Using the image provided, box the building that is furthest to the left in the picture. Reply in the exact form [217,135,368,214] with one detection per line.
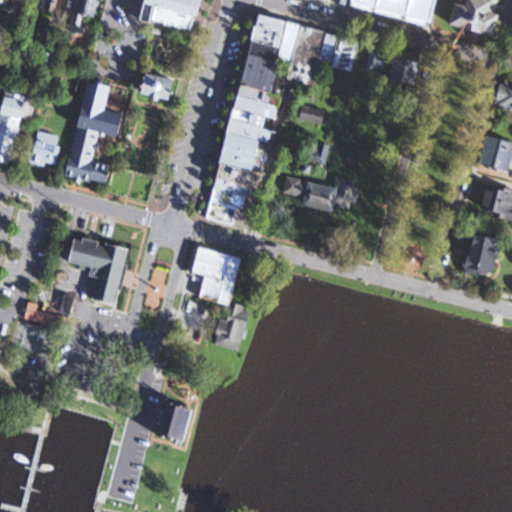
[0,93,36,167]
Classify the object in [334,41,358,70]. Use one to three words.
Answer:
shed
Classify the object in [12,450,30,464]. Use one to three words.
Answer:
boat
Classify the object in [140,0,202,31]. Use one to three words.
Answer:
building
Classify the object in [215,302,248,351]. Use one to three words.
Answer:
house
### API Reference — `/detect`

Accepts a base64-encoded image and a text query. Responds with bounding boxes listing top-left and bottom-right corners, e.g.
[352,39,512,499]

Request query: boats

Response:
[12,450,30,464]
[36,464,54,473]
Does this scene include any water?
Yes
